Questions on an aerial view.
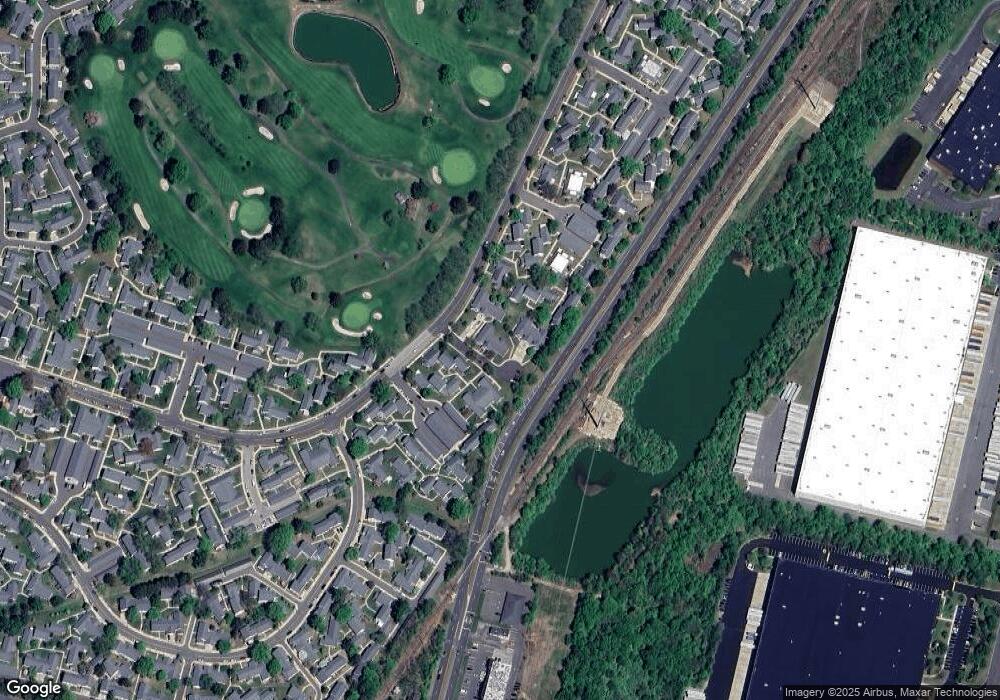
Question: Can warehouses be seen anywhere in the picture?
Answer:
Yes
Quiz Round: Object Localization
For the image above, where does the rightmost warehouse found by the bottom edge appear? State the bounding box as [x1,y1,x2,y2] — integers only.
[747,556,940,700]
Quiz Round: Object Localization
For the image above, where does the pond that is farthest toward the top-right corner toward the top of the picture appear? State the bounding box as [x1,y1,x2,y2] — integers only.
[873,134,921,189]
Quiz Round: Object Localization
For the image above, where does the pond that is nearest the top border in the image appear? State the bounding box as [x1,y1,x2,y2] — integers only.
[294,12,398,110]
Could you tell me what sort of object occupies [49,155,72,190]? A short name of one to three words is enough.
building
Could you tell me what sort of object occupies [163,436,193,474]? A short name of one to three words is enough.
house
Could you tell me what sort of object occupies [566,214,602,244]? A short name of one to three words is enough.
building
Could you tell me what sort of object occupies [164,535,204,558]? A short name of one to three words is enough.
house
